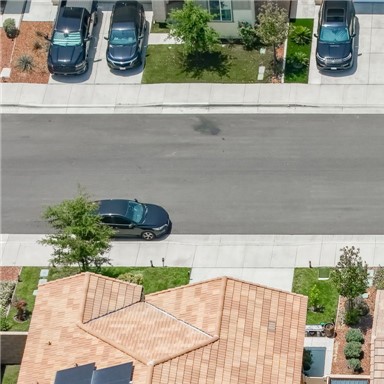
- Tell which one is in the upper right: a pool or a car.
car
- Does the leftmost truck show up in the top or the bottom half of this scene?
top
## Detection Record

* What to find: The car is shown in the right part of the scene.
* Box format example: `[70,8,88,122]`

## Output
[314,1,360,73]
